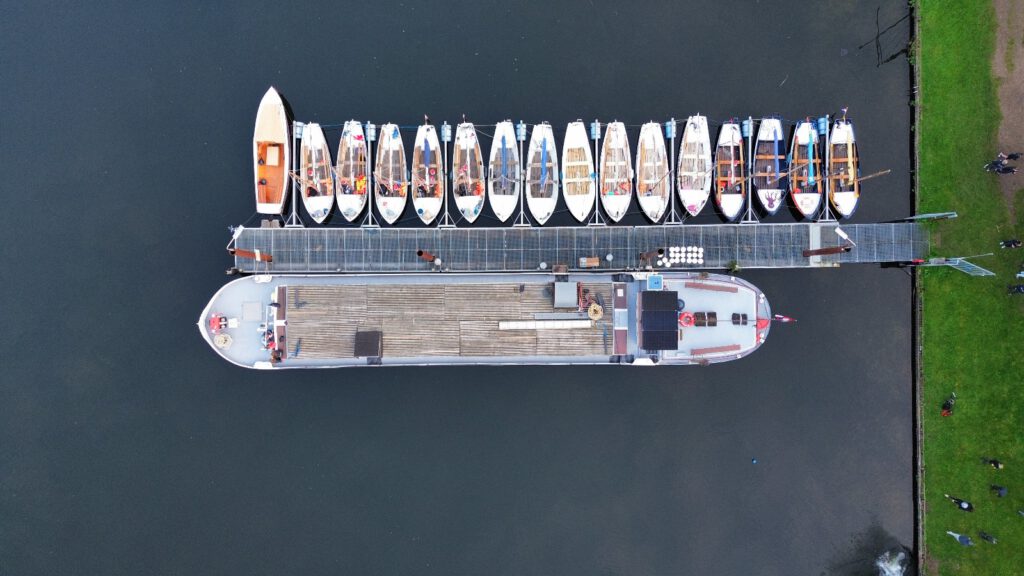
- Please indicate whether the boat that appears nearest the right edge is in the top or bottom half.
top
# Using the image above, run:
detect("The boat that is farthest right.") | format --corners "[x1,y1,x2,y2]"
[828,111,893,219]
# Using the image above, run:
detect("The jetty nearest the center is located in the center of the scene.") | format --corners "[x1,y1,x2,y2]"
[440,226,633,272]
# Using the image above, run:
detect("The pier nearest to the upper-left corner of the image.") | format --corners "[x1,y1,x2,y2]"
[234,227,440,273]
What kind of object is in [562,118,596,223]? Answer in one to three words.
boat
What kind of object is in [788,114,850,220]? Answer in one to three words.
boat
